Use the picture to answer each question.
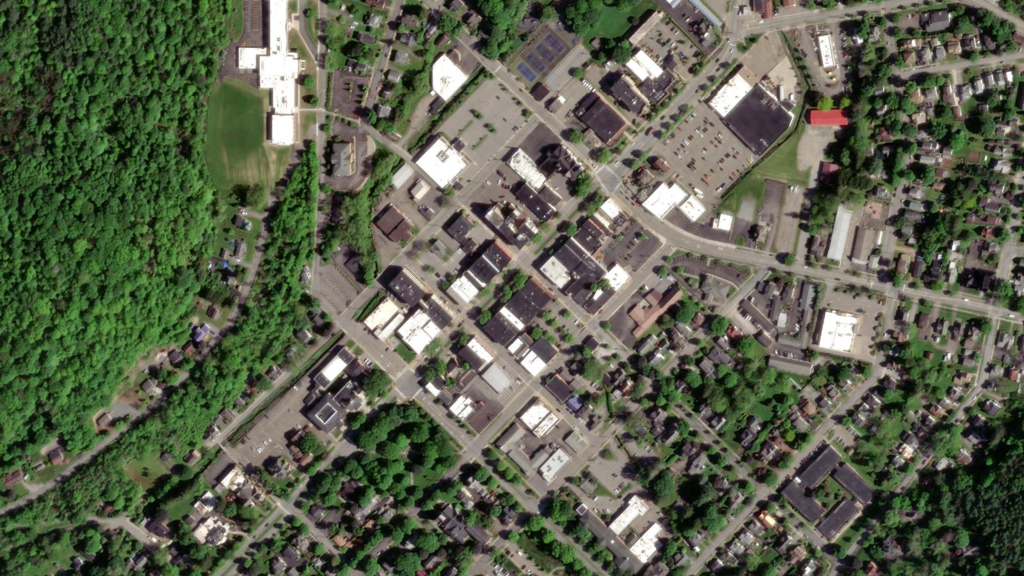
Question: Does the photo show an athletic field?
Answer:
Yes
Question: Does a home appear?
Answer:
Yes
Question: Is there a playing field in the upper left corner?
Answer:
Yes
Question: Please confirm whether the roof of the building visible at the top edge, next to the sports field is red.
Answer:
No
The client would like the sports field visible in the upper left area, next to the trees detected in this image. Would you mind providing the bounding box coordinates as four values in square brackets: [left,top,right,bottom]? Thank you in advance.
[219,81,268,192]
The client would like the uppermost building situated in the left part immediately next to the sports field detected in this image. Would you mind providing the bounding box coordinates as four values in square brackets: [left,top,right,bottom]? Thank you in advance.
[238,0,301,145]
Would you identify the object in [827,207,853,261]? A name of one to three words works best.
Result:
shed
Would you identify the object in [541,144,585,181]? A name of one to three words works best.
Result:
building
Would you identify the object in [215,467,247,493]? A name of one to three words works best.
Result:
house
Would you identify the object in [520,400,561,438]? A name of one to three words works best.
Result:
building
